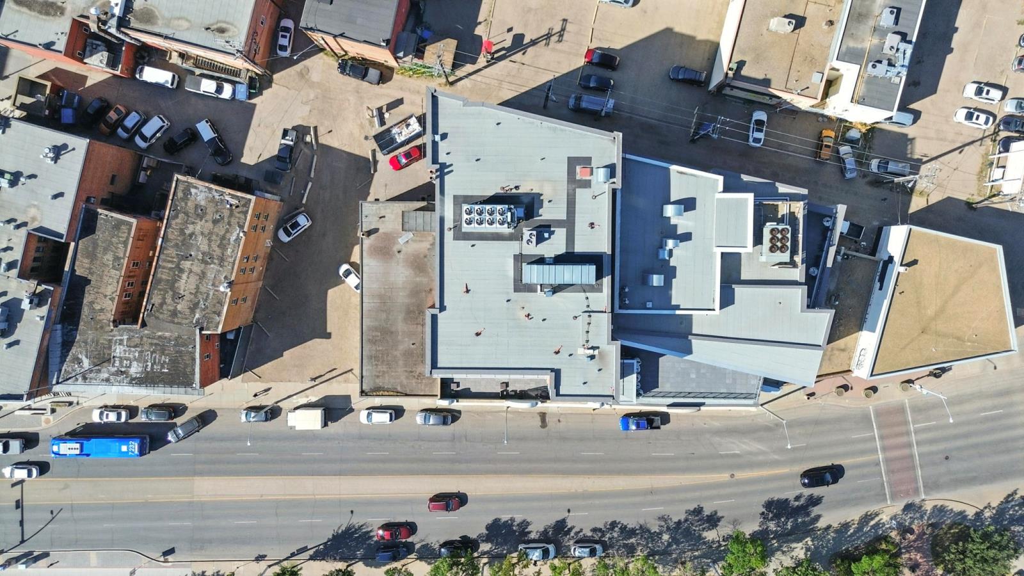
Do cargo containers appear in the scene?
Yes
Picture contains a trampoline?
No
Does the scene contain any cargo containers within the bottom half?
No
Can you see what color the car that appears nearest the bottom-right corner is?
black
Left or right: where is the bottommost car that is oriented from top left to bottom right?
left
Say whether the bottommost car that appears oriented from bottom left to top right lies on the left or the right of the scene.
left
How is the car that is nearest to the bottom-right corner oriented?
horizontally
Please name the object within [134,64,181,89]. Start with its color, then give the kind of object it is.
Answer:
white vehicle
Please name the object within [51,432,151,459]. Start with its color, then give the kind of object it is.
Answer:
blue bus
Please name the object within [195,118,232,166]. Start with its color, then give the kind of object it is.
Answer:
black truck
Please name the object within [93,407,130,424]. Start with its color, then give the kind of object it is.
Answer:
white car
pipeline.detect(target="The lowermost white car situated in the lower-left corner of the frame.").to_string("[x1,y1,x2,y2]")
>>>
[6,464,42,481]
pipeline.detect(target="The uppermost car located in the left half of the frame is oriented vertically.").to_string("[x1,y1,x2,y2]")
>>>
[277,19,295,56]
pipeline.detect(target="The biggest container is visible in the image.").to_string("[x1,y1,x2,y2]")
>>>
[372,114,422,154]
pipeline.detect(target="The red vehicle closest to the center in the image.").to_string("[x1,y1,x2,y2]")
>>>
[389,145,422,170]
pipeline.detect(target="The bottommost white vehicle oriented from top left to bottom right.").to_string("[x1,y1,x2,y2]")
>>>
[337,263,360,297]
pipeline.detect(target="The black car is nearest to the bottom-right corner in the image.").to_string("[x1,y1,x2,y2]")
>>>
[797,466,837,487]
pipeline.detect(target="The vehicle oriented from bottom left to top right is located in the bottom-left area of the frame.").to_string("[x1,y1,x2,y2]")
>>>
[167,415,205,444]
